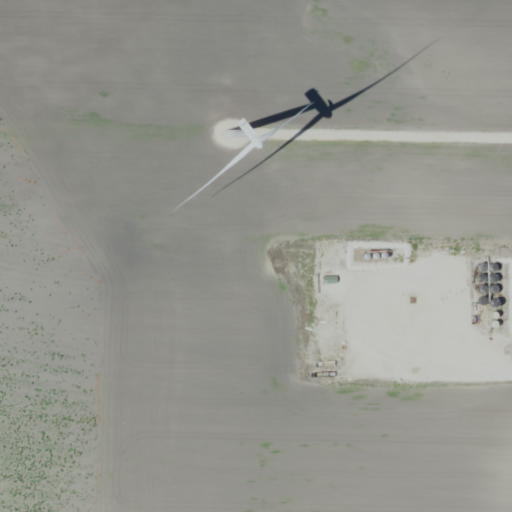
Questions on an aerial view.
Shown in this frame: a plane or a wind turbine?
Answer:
wind turbine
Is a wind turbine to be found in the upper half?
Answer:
Yes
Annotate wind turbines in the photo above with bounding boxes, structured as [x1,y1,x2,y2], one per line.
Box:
[172,100,317,213]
